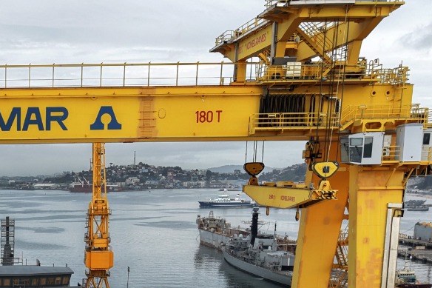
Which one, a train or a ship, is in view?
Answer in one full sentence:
This aerial view contains a ship.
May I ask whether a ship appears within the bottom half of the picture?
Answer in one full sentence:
Yes, there is a ship within the bottom half of the picture.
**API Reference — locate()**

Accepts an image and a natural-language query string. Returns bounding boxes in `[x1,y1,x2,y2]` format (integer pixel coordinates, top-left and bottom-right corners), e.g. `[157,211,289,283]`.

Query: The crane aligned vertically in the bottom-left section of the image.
[79,143,111,288]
